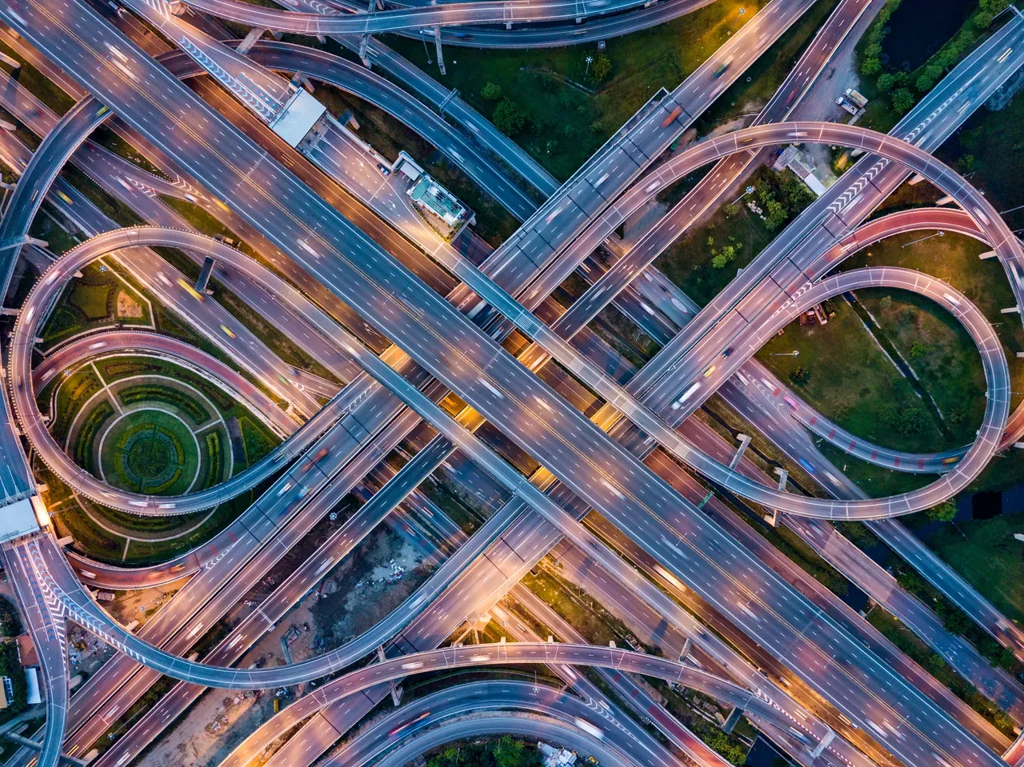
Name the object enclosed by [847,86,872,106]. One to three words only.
vehicle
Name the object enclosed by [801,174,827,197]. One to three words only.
shed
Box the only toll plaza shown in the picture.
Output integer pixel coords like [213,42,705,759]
[0,481,146,689]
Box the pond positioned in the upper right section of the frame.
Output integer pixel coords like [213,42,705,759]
[882,0,973,69]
